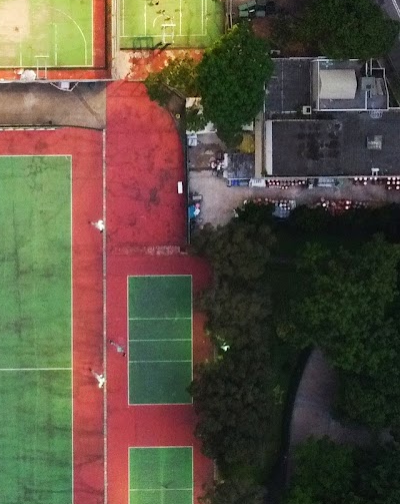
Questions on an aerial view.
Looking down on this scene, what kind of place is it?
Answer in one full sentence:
This image shows a sports ground.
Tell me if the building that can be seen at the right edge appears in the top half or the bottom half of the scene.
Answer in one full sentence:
You can find the building that can be seen at the right edge in the top half.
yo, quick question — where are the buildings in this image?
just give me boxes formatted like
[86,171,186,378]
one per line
[256,57,400,178]
[220,153,251,180]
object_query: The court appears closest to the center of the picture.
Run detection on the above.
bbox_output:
[128,274,193,405]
